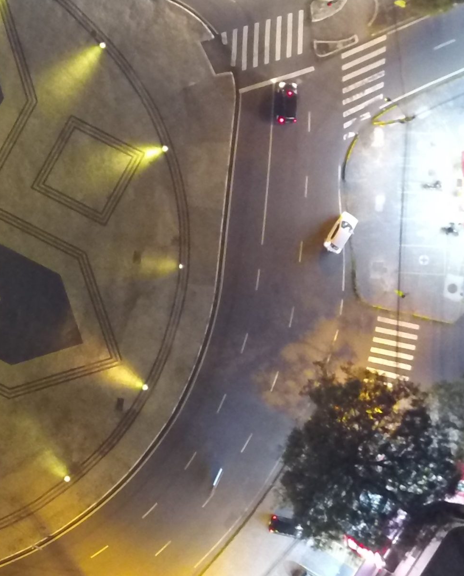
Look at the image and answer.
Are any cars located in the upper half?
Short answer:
Yes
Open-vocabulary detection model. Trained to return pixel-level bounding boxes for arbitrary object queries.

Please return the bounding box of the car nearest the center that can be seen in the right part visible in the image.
[323,212,355,254]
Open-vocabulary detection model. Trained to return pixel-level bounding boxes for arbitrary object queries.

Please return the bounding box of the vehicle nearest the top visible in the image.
[273,81,299,126]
